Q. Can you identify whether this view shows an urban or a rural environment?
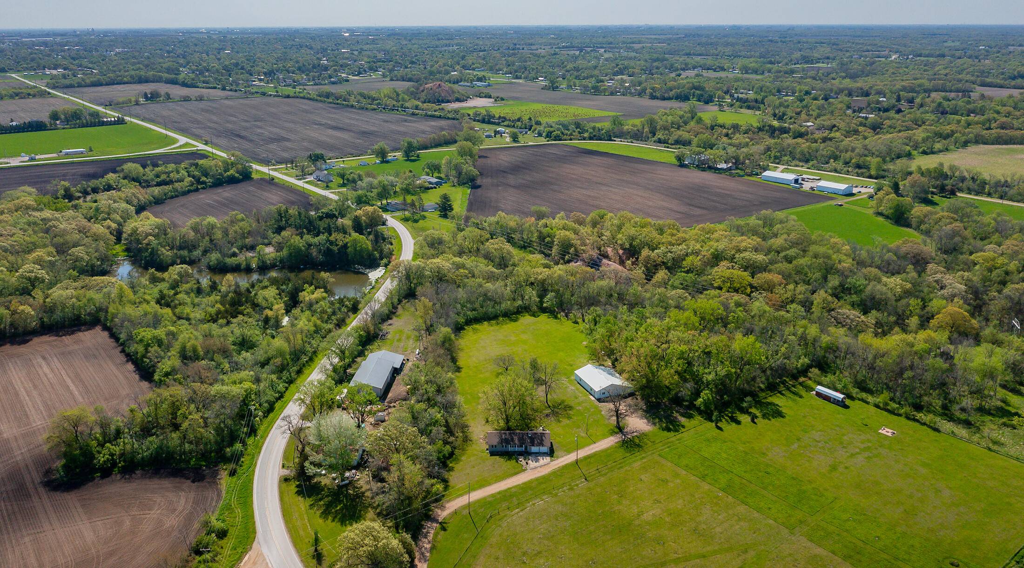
rural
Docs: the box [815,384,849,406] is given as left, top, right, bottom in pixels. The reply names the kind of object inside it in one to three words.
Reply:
building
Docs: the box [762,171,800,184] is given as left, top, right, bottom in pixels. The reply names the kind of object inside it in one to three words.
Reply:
shed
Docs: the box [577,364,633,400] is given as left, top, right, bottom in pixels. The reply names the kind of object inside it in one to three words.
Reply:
barn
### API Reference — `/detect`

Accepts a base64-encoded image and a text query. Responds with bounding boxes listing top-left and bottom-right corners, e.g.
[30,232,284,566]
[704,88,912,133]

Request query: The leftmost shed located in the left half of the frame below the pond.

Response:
[348,349,410,397]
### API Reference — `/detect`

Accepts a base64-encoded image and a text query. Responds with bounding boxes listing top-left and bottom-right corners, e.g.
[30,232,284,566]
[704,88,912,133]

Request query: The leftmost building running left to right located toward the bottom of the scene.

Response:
[487,431,551,457]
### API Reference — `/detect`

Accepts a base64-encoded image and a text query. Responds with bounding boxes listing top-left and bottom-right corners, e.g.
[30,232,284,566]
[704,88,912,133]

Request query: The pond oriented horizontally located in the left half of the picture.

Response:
[111,260,383,310]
